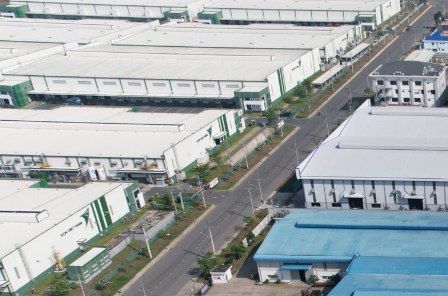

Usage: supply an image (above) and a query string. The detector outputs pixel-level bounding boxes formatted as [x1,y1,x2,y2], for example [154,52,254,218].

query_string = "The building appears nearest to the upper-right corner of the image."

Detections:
[423,34,448,52]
